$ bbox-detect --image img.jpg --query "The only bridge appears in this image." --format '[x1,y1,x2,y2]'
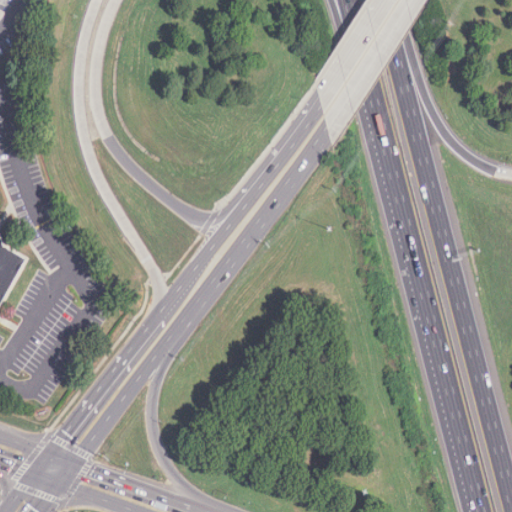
[312,0,425,148]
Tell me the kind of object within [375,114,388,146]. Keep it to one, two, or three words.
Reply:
vehicle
